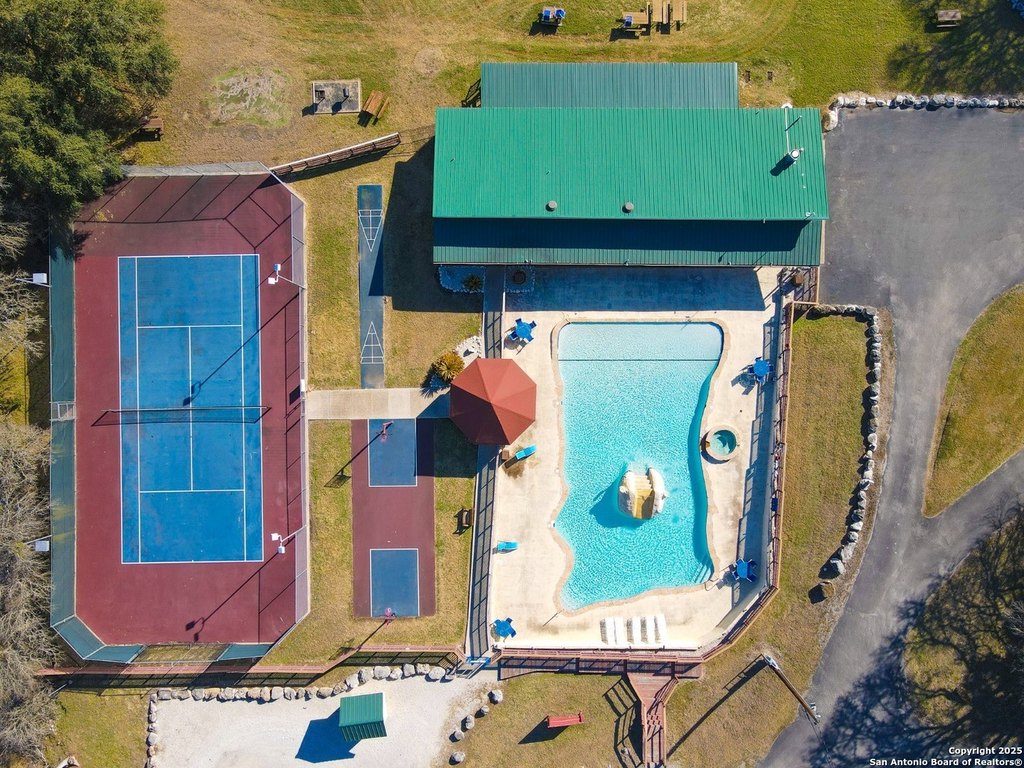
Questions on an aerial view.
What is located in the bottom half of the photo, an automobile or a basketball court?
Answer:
basketball court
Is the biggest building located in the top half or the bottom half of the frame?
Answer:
top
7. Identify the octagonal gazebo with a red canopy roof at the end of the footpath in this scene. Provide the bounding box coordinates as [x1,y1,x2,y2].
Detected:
[450,359,536,444]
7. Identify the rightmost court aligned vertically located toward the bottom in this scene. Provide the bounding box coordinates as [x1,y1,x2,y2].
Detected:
[351,419,436,618]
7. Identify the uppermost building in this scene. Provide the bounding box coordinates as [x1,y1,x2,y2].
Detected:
[432,63,829,273]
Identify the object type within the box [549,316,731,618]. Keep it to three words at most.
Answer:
swimming pool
